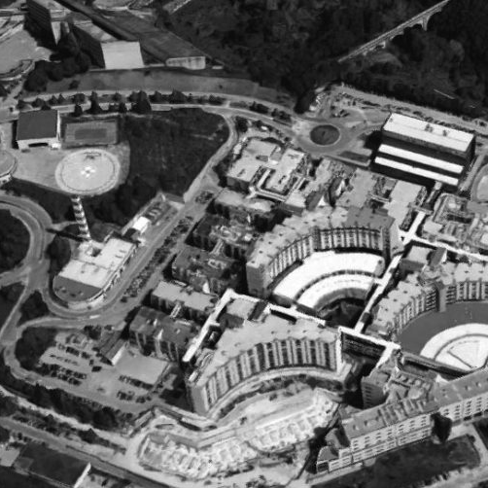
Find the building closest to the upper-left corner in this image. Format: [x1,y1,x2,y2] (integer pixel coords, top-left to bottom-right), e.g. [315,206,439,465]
[19,0,57,44]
